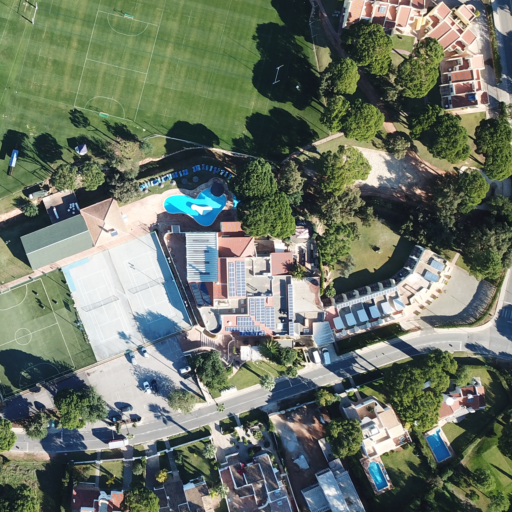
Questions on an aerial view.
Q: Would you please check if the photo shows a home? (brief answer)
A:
Yes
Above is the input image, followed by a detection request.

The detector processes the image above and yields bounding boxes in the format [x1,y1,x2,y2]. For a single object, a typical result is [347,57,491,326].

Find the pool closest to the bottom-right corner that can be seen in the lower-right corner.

[426,430,453,464]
